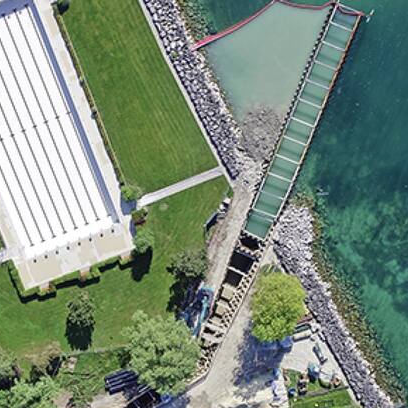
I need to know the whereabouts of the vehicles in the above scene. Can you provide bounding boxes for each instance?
[188,292,213,344]
[313,344,328,365]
